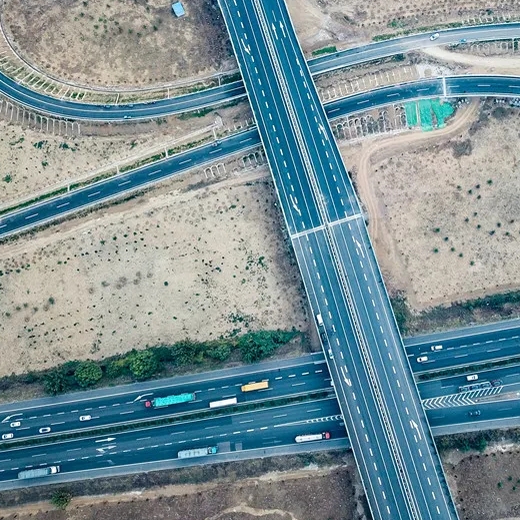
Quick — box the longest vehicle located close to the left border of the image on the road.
[17,464,62,479]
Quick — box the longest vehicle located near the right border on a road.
[458,378,502,395]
